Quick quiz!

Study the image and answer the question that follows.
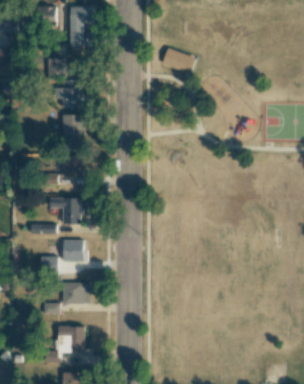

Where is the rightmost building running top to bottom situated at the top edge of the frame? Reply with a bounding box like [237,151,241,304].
[70,6,88,49]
